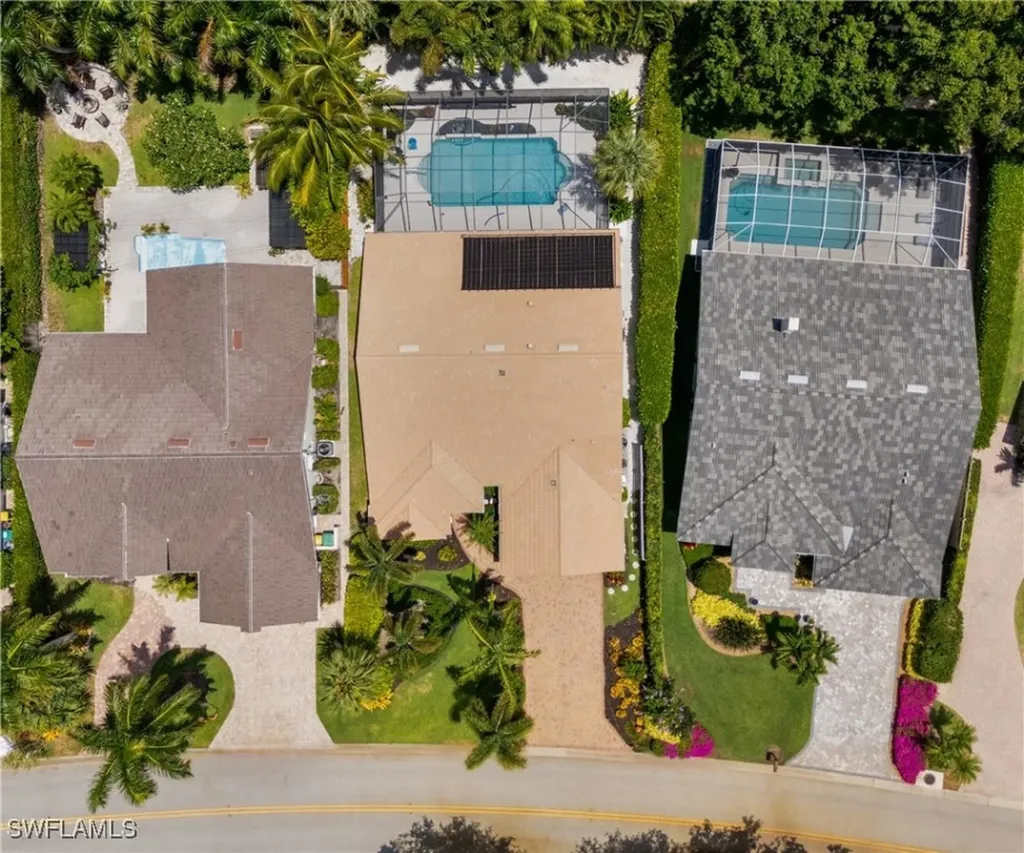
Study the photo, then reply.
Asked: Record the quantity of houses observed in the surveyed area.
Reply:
three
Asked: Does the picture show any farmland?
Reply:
No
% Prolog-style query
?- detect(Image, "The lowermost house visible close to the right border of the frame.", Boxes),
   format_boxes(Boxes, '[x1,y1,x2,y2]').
[674,248,982,600]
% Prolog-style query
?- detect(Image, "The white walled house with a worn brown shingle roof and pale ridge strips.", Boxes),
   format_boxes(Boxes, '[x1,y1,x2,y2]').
[12,263,323,631]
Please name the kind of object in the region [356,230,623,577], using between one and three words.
house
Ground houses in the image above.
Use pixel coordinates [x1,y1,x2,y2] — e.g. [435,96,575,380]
[356,230,623,577]
[674,248,982,600]
[12,263,323,631]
